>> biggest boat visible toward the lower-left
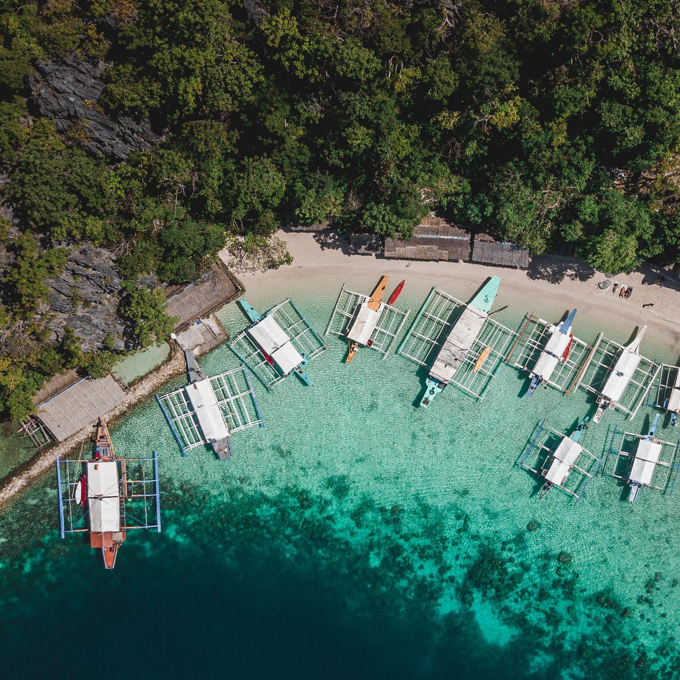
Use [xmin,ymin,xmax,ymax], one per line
[55,416,161,605]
